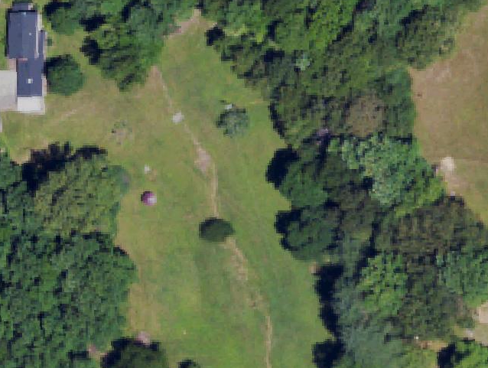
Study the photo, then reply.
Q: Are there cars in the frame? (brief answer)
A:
No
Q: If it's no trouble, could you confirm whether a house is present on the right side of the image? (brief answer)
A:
No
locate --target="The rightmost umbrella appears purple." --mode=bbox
[141,191,154,204]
